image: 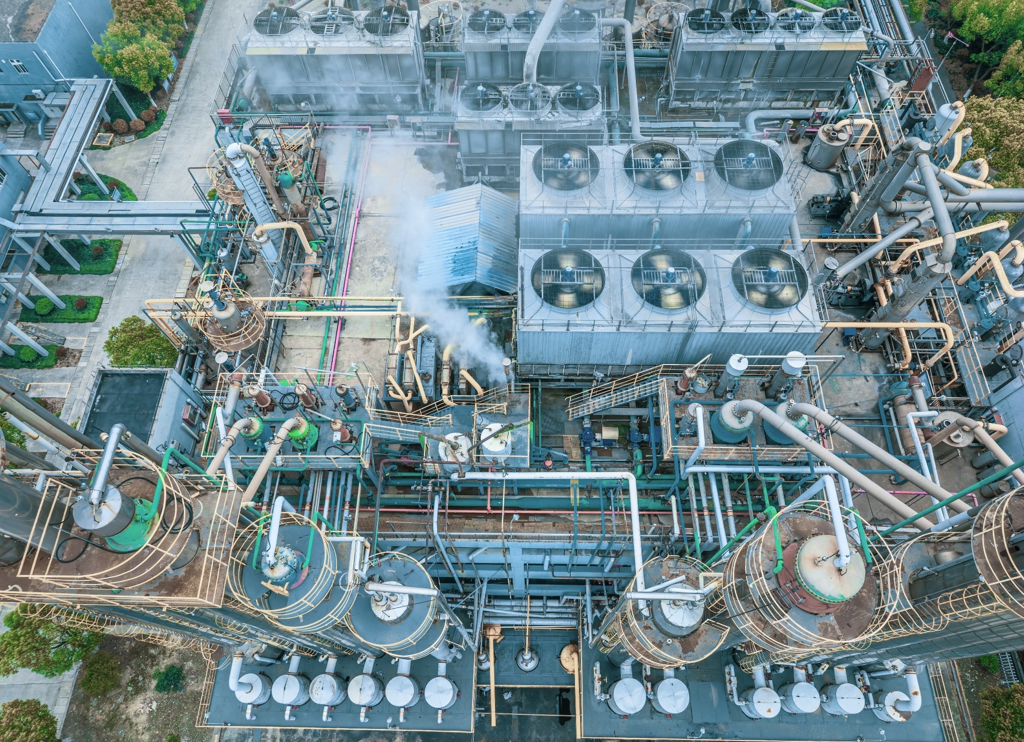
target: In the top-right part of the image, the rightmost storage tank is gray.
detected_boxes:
[812,123,862,177]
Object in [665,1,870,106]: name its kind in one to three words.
cooling tower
